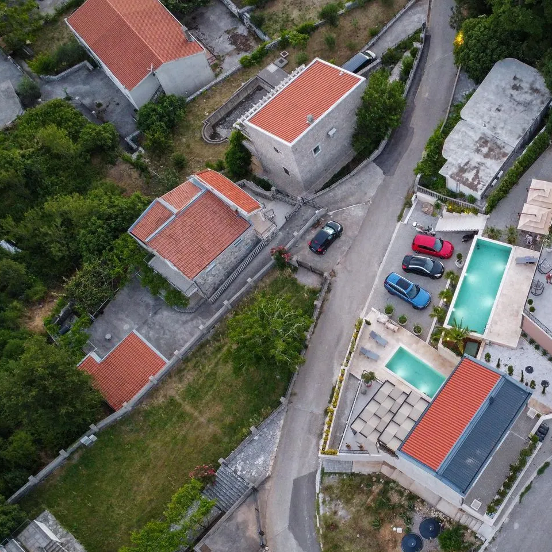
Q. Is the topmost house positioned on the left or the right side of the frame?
left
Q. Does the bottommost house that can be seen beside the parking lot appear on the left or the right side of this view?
right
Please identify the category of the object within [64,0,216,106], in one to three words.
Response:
house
